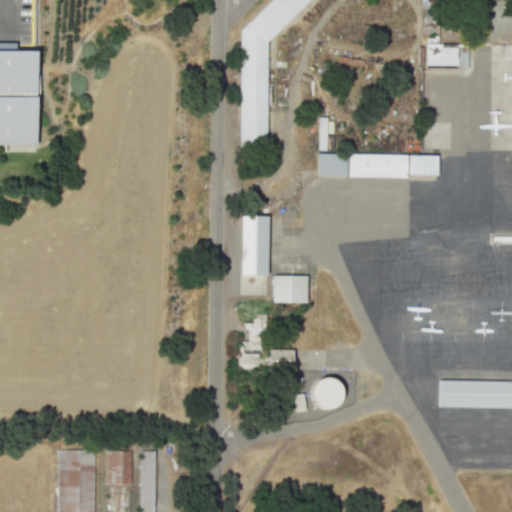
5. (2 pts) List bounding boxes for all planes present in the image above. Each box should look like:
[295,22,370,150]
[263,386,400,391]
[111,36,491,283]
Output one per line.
[422,320,444,336]
[480,107,512,130]
[492,306,512,324]
[408,304,431,321]
[474,320,494,336]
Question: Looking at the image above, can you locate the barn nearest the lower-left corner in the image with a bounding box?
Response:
[58,450,96,512]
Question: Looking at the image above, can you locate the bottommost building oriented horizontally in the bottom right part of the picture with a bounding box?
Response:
[438,380,512,408]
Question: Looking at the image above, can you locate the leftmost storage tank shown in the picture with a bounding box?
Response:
[312,378,346,411]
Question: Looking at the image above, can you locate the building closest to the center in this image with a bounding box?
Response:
[242,216,270,274]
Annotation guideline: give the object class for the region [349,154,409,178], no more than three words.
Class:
hangar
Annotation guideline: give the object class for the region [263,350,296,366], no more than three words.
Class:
house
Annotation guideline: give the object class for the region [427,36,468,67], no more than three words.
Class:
building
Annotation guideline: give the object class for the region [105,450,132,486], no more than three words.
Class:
barn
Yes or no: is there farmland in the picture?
Yes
